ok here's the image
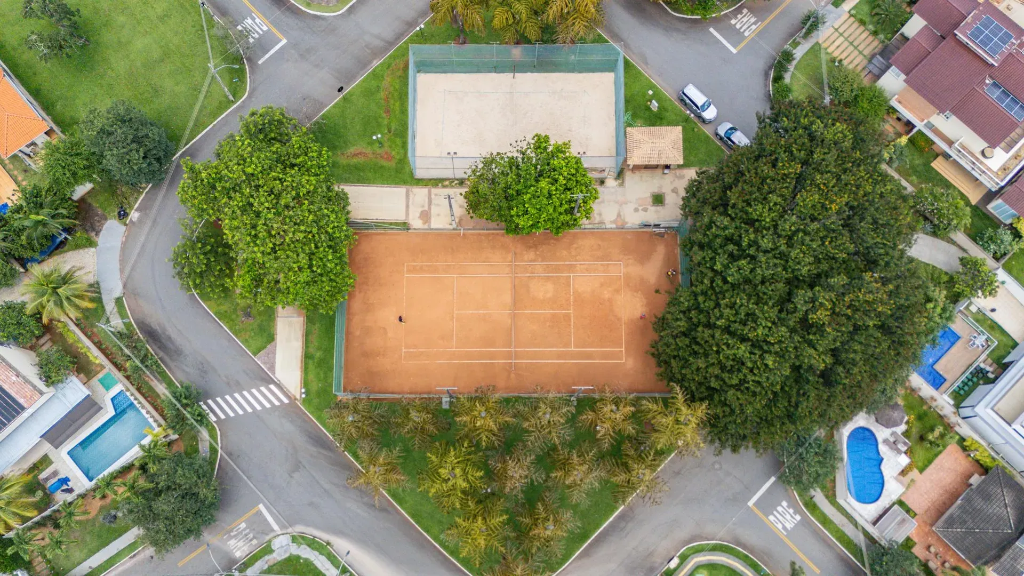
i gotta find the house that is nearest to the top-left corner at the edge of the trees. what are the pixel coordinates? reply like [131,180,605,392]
[0,71,53,161]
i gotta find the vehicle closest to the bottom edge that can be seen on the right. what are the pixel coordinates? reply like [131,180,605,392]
[716,122,751,157]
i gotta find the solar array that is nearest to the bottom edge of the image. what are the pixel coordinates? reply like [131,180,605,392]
[0,386,27,432]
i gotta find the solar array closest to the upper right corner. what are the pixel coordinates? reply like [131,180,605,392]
[968,14,1015,57]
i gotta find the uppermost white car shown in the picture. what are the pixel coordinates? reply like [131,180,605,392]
[678,85,718,124]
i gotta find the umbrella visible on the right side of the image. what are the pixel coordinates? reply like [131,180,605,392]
[873,400,906,433]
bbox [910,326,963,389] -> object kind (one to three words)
swimming pool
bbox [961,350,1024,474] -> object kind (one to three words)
house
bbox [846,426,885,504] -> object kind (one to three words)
swimming pool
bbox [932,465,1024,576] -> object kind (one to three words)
house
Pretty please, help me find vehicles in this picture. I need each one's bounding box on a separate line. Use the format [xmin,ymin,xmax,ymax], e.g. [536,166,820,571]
[716,122,751,157]
[678,85,718,124]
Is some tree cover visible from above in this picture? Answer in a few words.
Yes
